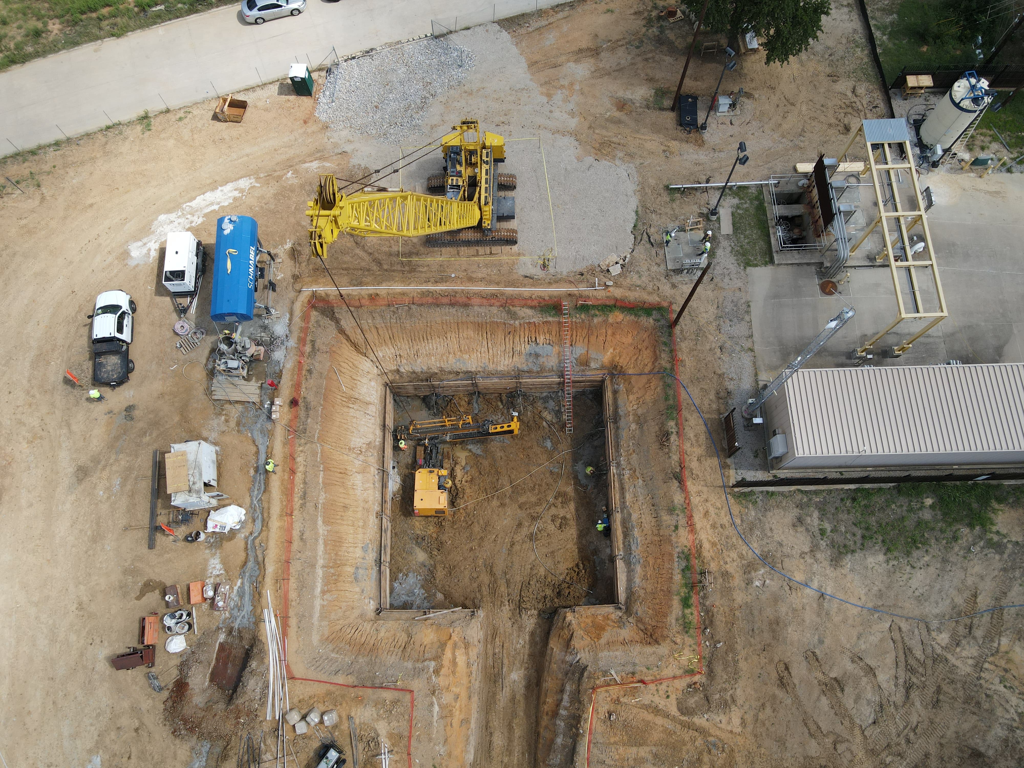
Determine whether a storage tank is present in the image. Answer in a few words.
Yes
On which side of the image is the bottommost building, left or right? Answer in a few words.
right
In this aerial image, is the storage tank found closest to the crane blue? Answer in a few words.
Yes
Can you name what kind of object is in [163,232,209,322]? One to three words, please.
trailer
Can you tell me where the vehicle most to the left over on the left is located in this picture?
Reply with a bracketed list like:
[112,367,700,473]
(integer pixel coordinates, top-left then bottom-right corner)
[83,287,134,385]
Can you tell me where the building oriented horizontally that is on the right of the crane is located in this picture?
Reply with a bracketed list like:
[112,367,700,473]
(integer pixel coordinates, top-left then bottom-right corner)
[754,358,1024,477]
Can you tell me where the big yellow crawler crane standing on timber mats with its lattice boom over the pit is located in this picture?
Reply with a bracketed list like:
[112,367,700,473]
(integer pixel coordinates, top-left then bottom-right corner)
[304,115,518,486]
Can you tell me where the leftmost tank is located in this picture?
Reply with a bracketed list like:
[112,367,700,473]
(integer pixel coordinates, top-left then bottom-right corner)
[215,213,275,342]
